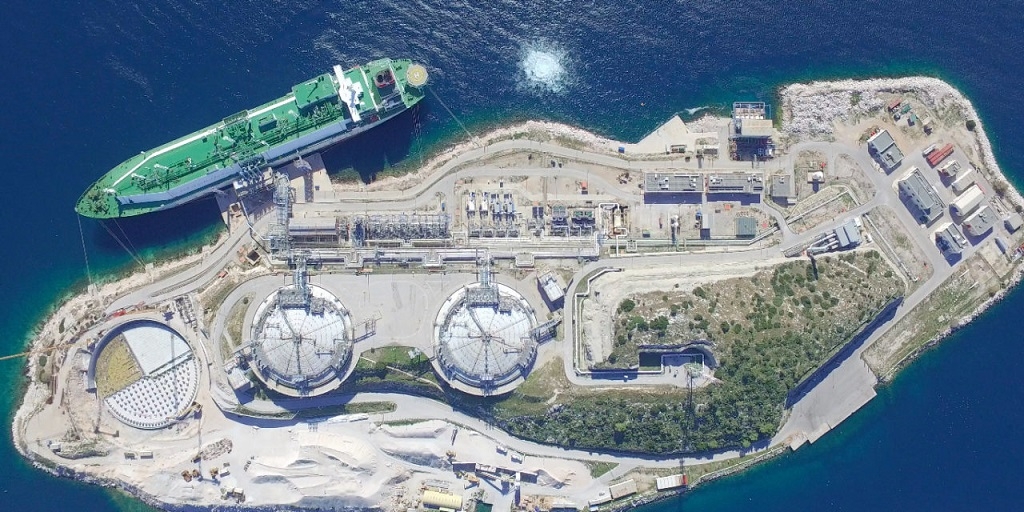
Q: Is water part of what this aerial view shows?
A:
Yes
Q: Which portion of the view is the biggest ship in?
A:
top left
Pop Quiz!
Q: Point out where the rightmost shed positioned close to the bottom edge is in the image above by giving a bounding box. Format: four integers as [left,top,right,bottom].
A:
[655,473,689,490]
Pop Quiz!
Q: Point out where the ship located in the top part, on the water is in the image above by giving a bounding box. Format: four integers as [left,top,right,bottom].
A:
[73,57,429,217]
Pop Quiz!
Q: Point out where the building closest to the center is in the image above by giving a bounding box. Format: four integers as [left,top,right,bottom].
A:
[538,271,565,302]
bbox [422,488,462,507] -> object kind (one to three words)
shed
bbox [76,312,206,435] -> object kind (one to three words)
storage tank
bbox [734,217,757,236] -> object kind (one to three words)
building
